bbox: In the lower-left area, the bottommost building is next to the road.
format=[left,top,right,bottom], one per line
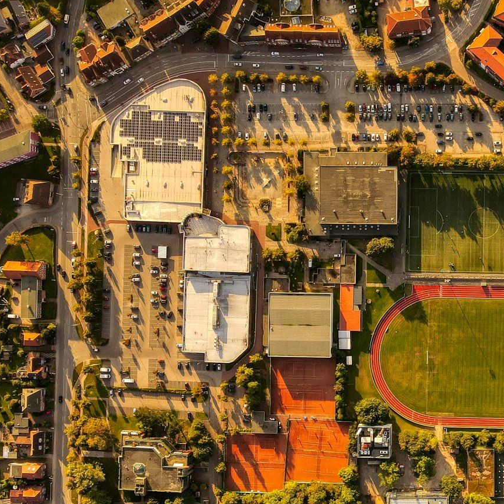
[0,484,47,504]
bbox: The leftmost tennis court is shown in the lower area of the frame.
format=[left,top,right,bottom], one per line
[223,435,287,491]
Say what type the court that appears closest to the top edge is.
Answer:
tennis court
